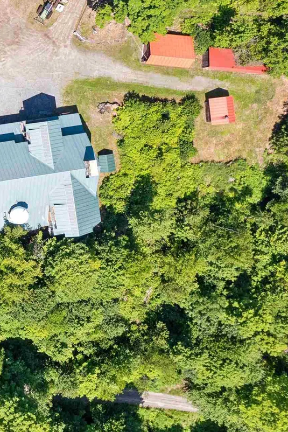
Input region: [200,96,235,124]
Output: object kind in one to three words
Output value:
shed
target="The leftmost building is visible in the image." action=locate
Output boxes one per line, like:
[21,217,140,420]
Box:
[0,113,101,237]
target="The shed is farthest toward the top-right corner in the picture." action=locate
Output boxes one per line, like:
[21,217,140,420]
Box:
[194,48,267,75]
